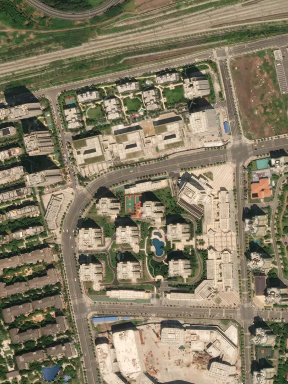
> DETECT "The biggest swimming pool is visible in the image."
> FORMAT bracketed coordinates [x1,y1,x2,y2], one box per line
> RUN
[151,236,167,259]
